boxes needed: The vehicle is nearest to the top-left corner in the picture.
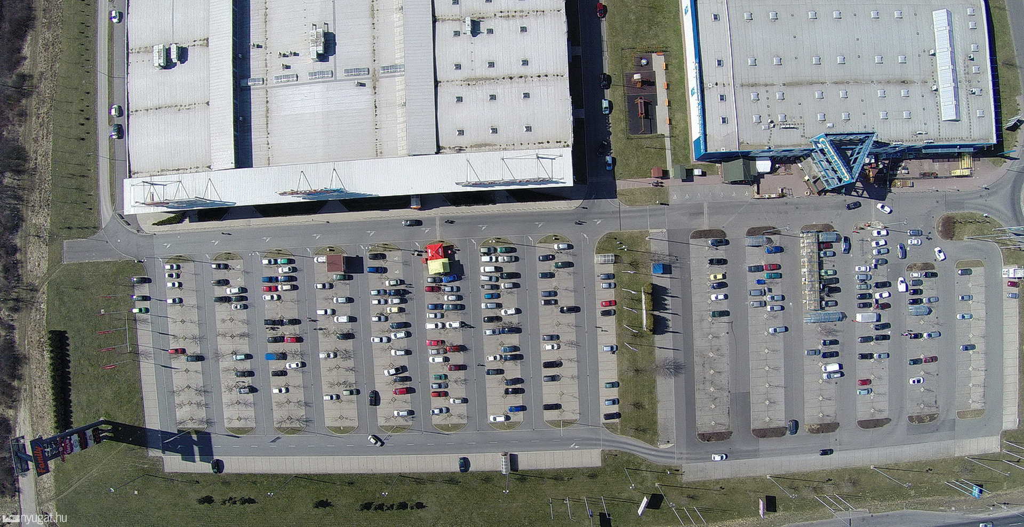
[110,9,122,24]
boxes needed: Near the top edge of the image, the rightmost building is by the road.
[679,0,996,163]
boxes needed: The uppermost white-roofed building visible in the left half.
[123,0,574,215]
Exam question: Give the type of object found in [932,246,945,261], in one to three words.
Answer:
vehicle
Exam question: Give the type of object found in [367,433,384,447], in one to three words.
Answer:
car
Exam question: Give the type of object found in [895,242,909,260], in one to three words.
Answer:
vehicle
